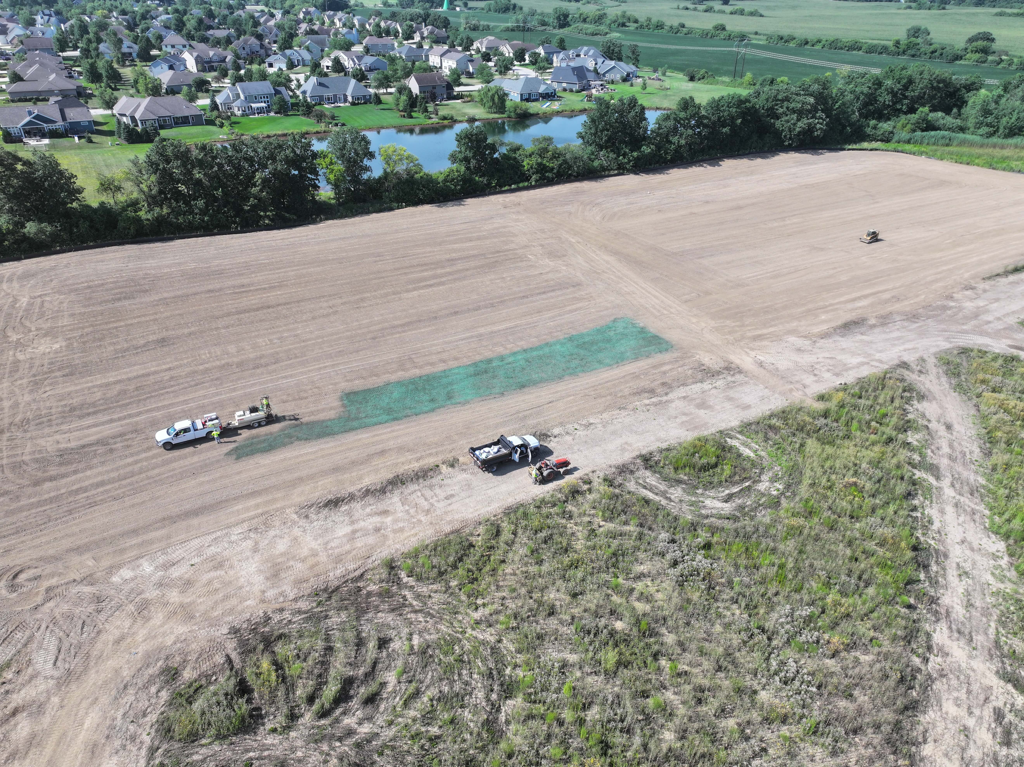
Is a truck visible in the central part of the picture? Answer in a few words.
Yes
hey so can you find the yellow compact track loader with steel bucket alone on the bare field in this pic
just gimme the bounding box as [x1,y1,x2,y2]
[859,227,885,243]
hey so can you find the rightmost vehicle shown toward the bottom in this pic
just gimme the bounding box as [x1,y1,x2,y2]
[535,458,569,483]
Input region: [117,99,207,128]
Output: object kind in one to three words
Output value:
house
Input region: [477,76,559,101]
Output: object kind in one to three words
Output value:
house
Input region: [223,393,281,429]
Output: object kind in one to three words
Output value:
trailer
